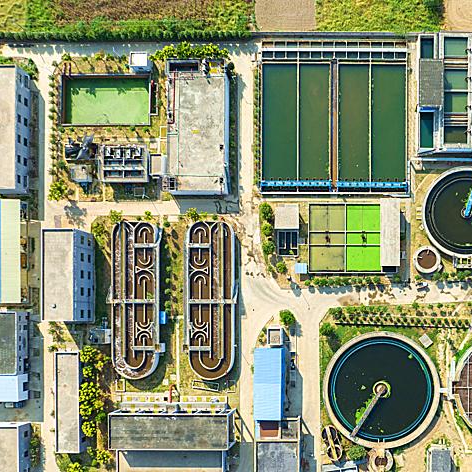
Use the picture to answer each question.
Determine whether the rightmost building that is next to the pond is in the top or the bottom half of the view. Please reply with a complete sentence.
Seen from above, the rightmost building that is next to the pond lies in the top half of the view.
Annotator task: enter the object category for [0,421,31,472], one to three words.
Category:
building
